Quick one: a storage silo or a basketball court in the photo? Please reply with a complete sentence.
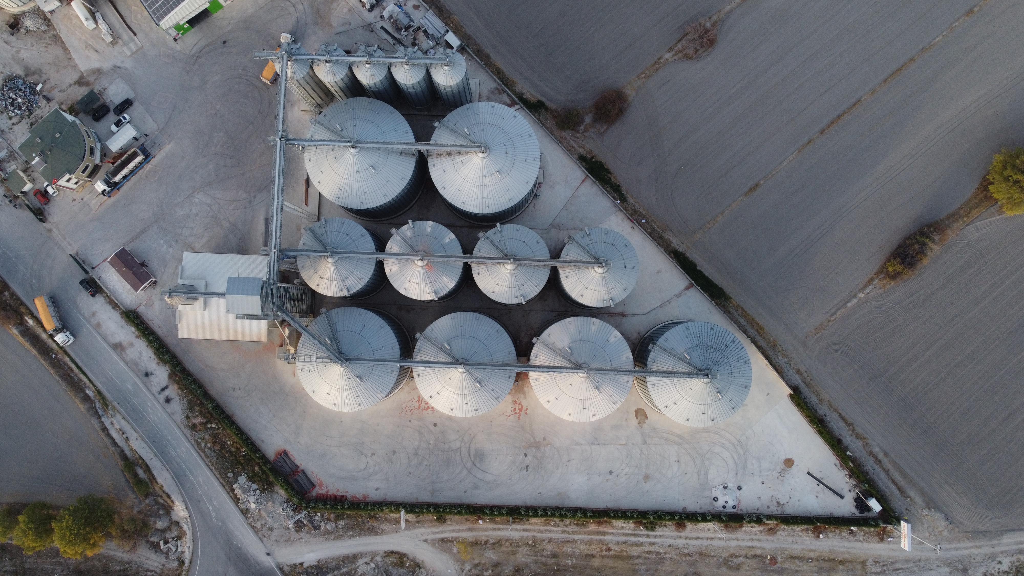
This aerial view contains a storage silo.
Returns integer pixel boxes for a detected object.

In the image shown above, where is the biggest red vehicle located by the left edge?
[32,189,48,205]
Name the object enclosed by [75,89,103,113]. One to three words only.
shed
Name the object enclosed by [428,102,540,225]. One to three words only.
silo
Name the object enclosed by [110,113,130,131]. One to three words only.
car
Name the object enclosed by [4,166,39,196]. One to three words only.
house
